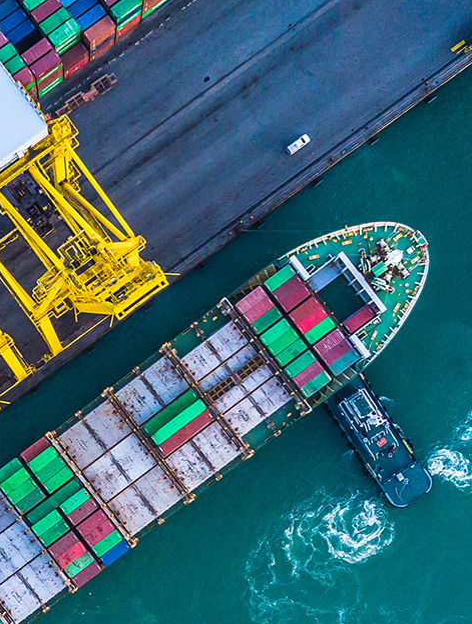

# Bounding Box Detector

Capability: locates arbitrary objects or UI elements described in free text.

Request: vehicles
[46,71,120,125]
[285,133,311,155]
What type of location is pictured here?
port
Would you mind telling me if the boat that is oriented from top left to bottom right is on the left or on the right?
right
